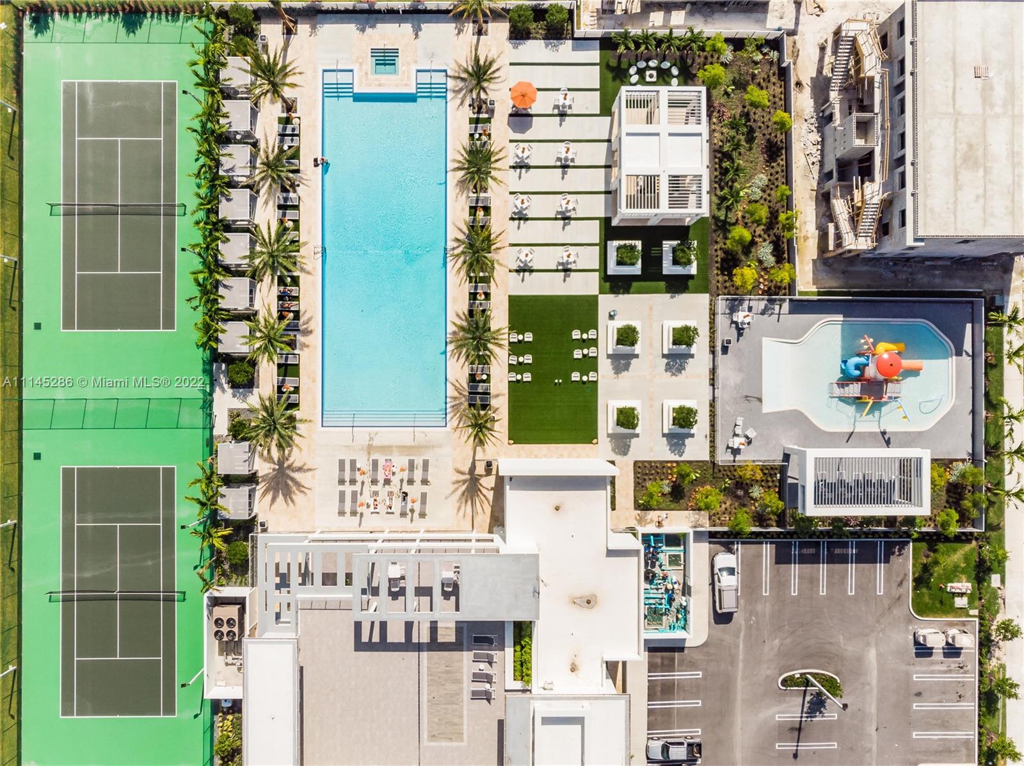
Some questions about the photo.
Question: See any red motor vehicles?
No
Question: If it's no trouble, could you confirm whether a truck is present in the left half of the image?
No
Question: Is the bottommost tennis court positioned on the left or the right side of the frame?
left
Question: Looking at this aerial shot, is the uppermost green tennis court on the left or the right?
left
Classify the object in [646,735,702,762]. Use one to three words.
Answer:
truck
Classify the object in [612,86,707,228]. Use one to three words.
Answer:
building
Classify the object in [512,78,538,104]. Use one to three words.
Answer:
umbrella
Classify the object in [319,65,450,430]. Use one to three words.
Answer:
swimming pool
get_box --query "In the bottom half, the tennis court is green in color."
[23,414,212,766]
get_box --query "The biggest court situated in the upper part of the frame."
[23,11,212,414]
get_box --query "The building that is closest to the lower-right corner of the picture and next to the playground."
[782,445,930,515]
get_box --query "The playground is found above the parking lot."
[820,335,927,421]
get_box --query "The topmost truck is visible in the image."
[712,553,740,615]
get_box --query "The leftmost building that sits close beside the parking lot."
[243,460,643,766]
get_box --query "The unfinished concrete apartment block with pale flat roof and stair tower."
[816,0,1024,262]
